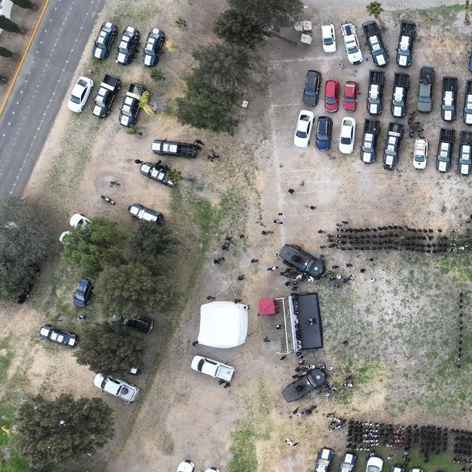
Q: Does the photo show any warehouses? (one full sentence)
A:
No, I can't see a single warehouse in this photo.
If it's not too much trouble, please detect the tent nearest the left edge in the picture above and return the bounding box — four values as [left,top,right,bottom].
[198,283,257,368]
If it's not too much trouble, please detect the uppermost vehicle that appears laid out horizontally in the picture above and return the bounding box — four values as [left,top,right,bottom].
[151,139,200,159]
